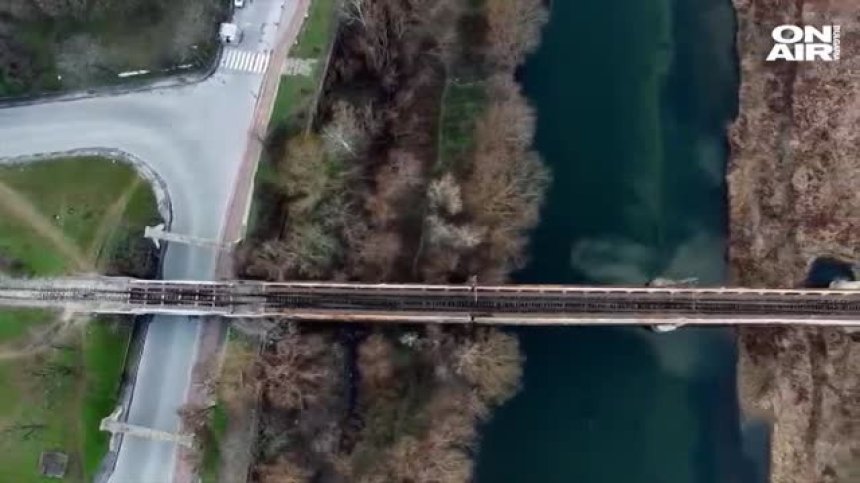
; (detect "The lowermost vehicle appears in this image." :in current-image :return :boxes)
[218,20,239,49]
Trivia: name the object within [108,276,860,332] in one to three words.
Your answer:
bridge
